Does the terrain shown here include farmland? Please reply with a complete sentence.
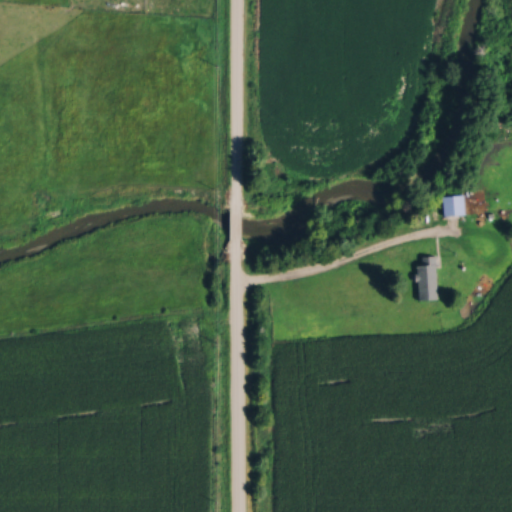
Yes, farmland can be seen from above here.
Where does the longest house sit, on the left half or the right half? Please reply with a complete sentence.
The longest house appears in the right half of the scene.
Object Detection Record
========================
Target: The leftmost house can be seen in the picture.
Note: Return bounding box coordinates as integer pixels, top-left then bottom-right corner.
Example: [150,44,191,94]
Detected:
[416,256,440,301]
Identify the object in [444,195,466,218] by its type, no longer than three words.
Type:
shed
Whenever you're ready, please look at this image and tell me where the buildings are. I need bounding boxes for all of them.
[416,256,440,301]
[444,195,466,218]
